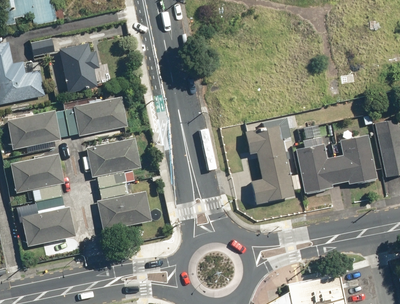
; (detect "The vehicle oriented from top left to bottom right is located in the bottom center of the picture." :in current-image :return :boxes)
[230,240,246,253]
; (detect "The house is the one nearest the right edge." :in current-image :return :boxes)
[375,120,400,176]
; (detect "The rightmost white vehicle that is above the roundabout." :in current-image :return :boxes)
[199,128,216,170]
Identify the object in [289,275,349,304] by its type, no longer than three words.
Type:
building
